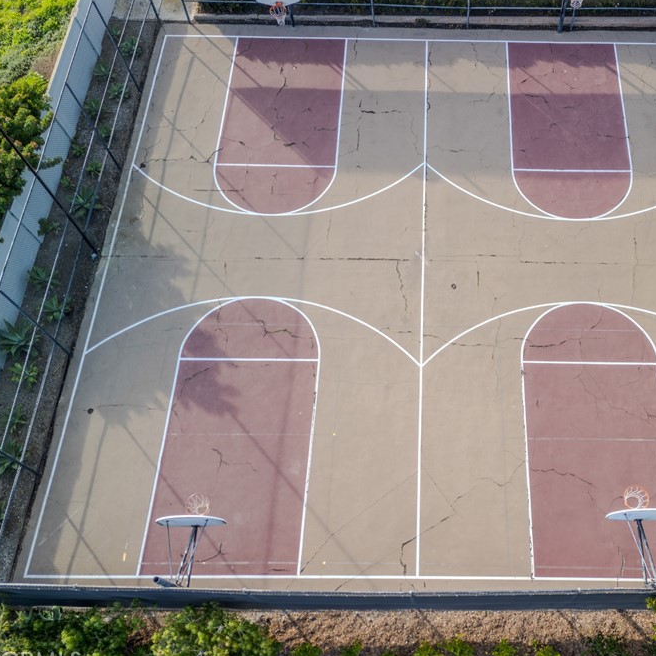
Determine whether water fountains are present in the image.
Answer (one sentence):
No, I can't see a single water fountain in this photo.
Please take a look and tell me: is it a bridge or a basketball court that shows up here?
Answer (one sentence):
Of the two, only a basketball court appears.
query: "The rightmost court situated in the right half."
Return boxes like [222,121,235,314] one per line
[416,28,656,597]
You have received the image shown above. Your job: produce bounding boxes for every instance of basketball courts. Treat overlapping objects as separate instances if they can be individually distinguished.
[416,28,656,597]
[4,23,428,596]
